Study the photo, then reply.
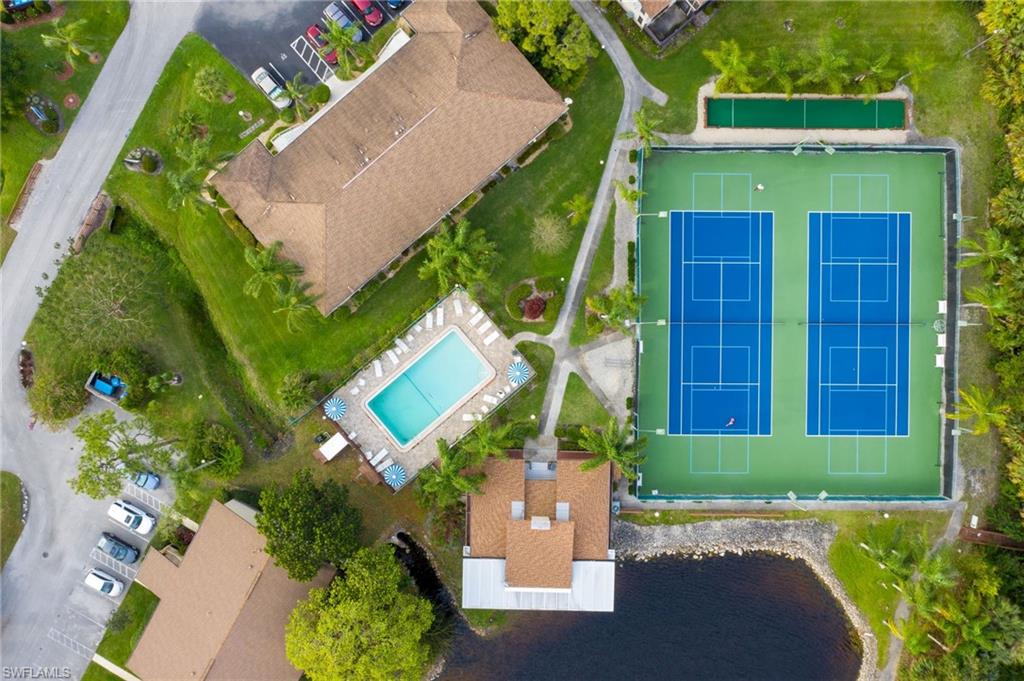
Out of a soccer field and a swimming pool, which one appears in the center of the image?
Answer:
swimming pool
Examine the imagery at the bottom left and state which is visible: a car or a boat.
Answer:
car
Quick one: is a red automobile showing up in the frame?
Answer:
Yes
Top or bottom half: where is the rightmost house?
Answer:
top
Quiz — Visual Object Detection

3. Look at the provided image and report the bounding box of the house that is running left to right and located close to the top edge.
[618,0,718,47]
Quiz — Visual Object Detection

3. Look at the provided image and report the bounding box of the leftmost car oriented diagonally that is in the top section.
[250,65,292,110]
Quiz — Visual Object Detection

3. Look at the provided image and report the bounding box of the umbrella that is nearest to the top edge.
[506,361,530,384]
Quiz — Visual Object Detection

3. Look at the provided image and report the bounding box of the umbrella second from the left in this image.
[384,464,407,487]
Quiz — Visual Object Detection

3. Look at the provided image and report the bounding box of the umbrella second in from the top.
[324,396,347,419]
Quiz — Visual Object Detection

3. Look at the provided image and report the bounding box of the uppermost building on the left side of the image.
[208,0,566,316]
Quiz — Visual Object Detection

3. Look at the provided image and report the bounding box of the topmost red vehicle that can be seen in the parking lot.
[353,0,386,27]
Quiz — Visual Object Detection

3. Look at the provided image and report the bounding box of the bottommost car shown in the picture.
[82,567,125,598]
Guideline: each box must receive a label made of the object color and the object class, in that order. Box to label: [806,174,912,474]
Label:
blue tennis court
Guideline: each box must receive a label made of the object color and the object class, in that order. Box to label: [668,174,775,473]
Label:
blue tennis court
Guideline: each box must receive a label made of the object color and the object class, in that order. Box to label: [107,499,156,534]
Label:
white car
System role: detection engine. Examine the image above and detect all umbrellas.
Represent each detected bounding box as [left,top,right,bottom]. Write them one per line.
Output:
[324,396,347,419]
[384,464,407,487]
[506,361,530,384]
